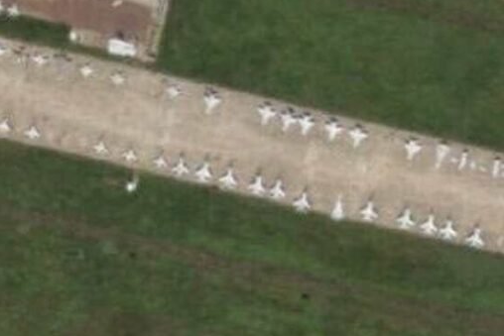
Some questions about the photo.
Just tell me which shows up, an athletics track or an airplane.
airplane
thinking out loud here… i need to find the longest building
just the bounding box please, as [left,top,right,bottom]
[106,37,136,57]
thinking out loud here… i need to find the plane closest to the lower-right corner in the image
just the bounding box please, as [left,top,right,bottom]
[467,228,484,250]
